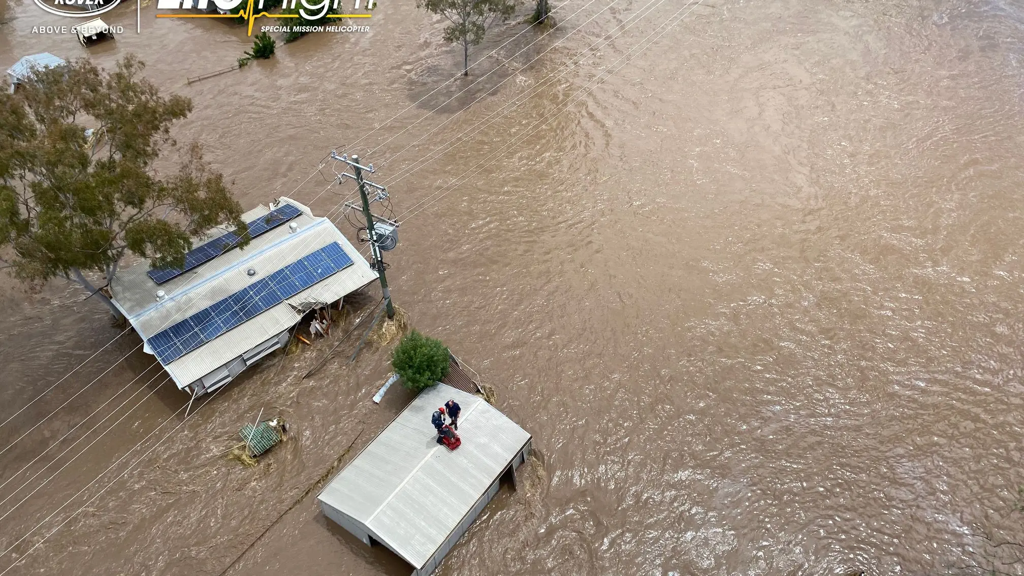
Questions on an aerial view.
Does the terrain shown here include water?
Yes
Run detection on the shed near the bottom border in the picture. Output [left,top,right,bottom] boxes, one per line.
[316,379,534,576]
